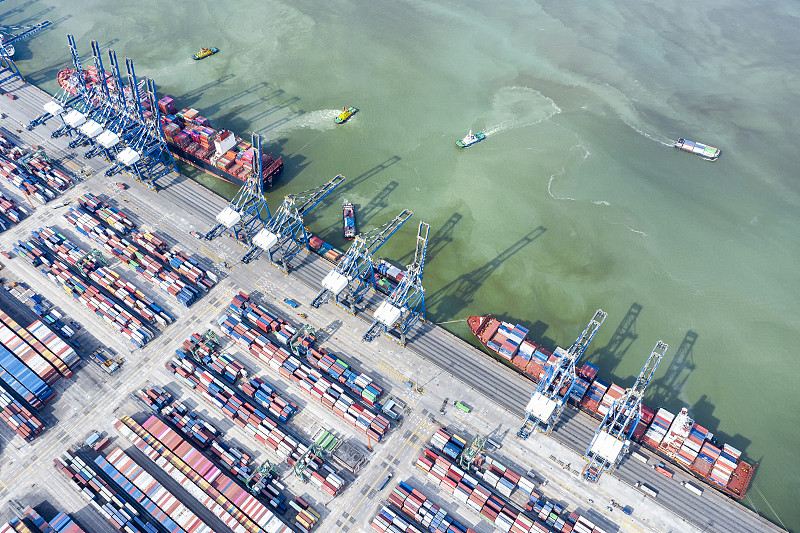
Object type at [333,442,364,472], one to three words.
building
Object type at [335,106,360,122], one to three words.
boat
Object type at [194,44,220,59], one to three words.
boat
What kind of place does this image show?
port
